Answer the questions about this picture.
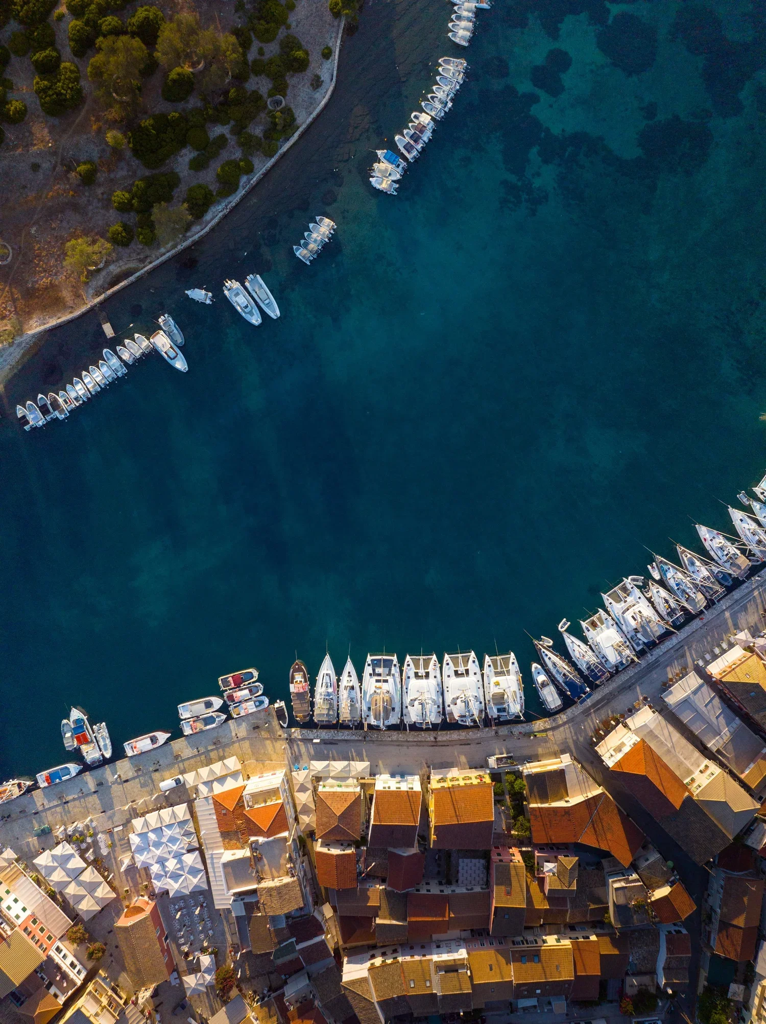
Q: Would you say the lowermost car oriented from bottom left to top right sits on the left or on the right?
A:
left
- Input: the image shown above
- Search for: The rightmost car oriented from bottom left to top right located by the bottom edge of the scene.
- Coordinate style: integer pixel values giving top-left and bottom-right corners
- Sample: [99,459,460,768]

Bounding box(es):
[170,996,192,1021]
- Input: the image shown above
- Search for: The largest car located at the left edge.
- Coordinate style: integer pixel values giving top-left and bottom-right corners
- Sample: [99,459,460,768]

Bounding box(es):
[30,825,50,838]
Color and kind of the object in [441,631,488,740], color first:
white boat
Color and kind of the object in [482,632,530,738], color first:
white boat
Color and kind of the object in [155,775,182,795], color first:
white vehicle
